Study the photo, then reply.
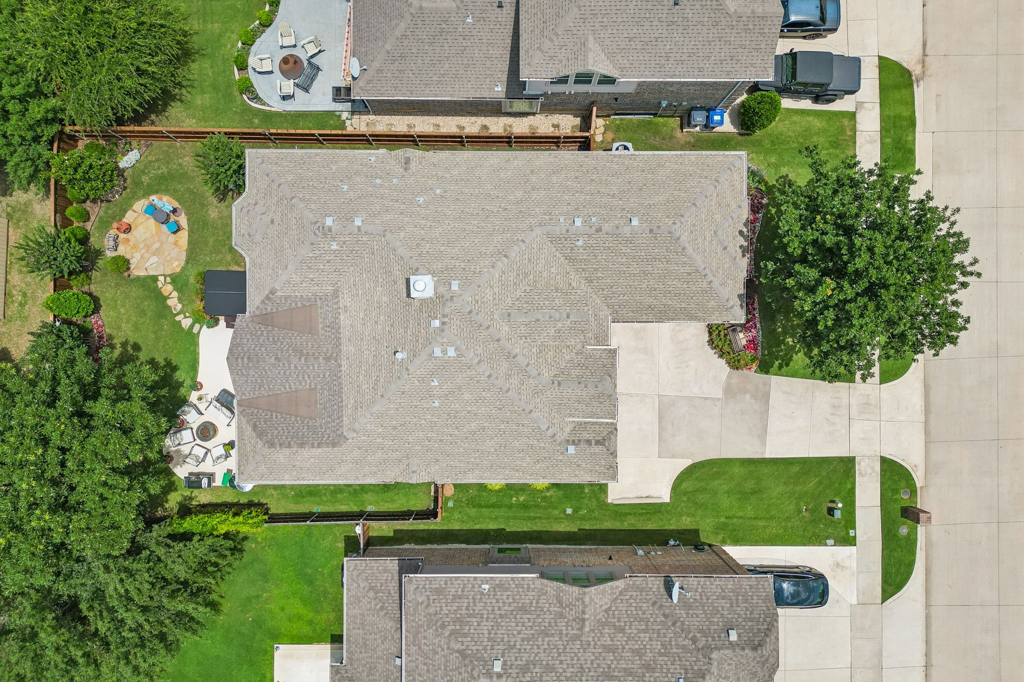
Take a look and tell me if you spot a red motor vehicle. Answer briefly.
No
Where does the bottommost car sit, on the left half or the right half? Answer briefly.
right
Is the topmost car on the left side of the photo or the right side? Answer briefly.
right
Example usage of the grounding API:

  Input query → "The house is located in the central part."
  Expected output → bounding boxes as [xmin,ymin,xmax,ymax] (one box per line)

[227,148,752,485]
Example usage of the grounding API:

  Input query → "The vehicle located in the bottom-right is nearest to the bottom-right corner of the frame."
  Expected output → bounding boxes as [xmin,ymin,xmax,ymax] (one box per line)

[743,565,829,609]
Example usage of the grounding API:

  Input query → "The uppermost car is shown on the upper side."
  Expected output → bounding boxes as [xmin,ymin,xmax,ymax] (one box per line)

[781,0,841,39]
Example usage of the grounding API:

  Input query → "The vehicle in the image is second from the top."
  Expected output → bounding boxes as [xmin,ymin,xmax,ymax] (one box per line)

[744,50,861,101]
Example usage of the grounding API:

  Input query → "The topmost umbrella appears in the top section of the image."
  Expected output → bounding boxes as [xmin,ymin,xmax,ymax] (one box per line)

[152,199,184,218]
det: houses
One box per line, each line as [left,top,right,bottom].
[328,543,781,682]
[349,0,784,114]
[227,148,752,485]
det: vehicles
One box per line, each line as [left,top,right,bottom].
[781,0,841,39]
[743,565,829,609]
[744,50,861,101]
